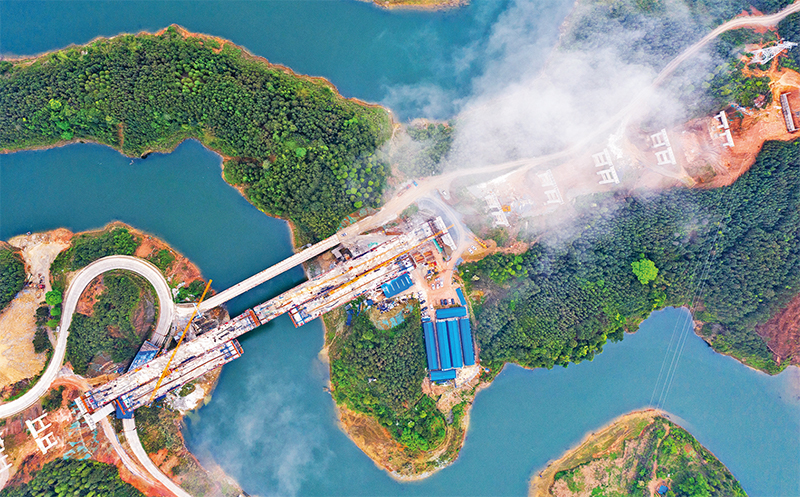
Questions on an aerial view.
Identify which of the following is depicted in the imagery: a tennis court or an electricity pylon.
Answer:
electricity pylon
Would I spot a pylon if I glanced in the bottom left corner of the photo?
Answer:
No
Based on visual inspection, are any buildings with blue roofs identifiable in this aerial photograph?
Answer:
Yes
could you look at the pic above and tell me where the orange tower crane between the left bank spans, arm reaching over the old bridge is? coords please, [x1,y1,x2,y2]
[152,281,213,398]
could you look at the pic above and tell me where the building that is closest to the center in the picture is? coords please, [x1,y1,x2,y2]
[381,273,413,298]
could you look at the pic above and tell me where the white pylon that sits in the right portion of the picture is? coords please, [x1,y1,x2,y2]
[746,37,799,69]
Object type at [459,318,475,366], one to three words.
building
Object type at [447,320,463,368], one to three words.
building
